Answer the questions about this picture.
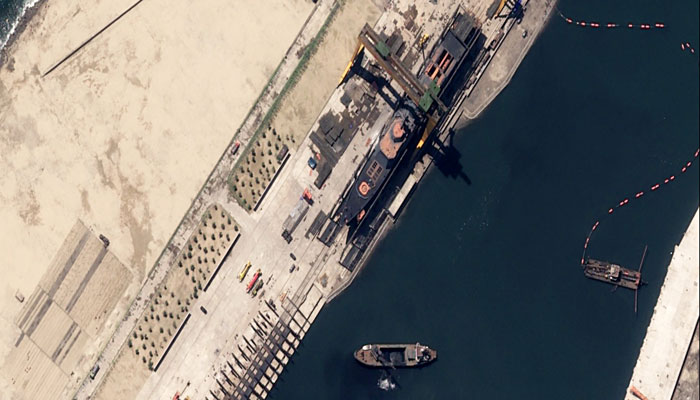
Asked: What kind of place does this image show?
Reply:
port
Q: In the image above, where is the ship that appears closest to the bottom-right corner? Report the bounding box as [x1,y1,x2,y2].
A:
[584,245,649,312]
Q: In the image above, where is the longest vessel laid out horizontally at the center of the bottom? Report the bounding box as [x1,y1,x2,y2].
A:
[354,343,437,369]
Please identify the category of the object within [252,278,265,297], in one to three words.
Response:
vehicle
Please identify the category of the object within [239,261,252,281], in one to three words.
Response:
vehicle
